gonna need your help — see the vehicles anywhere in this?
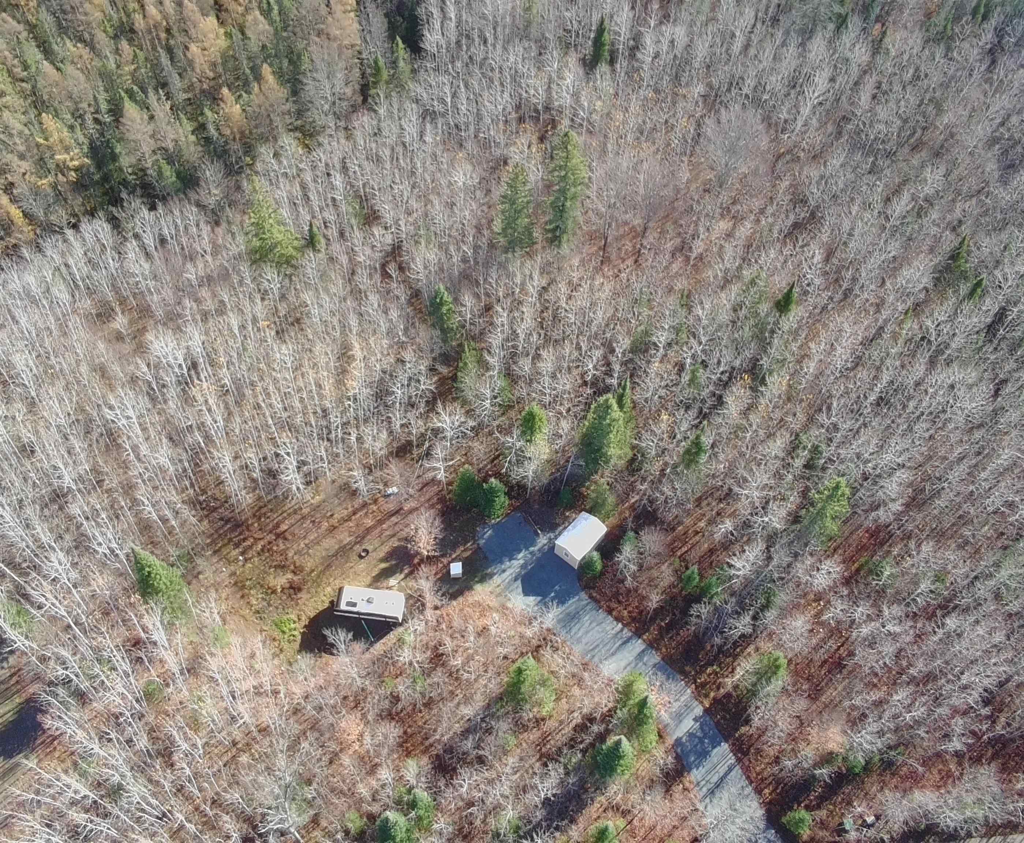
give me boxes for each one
[334,585,406,628]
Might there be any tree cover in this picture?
Yes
